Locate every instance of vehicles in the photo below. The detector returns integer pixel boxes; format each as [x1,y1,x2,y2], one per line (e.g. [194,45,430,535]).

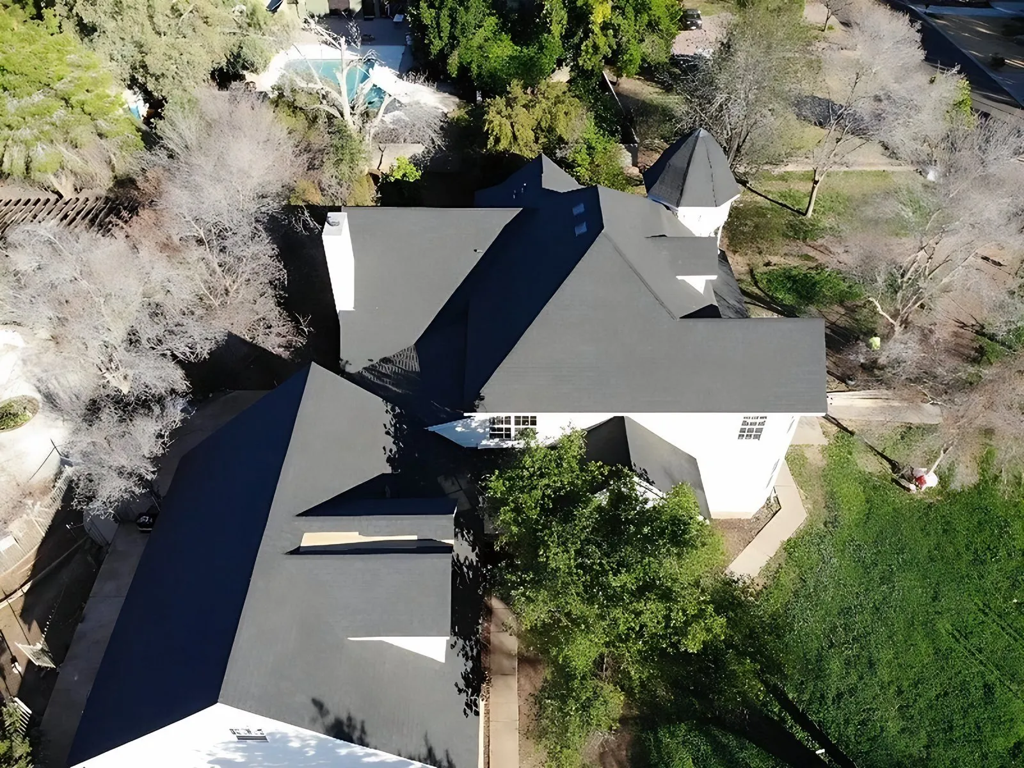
[676,0,703,25]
